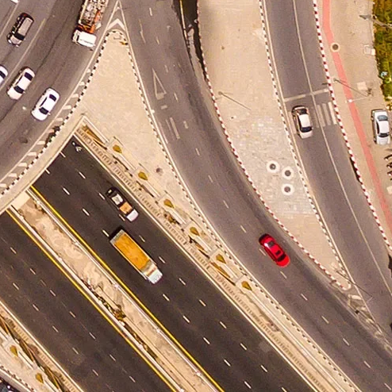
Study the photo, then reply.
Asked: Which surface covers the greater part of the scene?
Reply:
paved ground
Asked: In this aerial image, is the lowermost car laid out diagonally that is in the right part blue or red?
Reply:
red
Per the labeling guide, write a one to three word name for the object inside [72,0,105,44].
truck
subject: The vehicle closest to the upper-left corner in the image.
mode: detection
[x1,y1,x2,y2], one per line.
[8,12,31,45]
